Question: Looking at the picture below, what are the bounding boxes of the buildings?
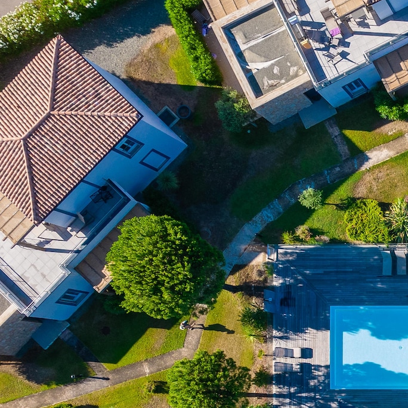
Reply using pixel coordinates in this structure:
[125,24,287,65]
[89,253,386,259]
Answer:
[211,0,408,130]
[0,33,184,352]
